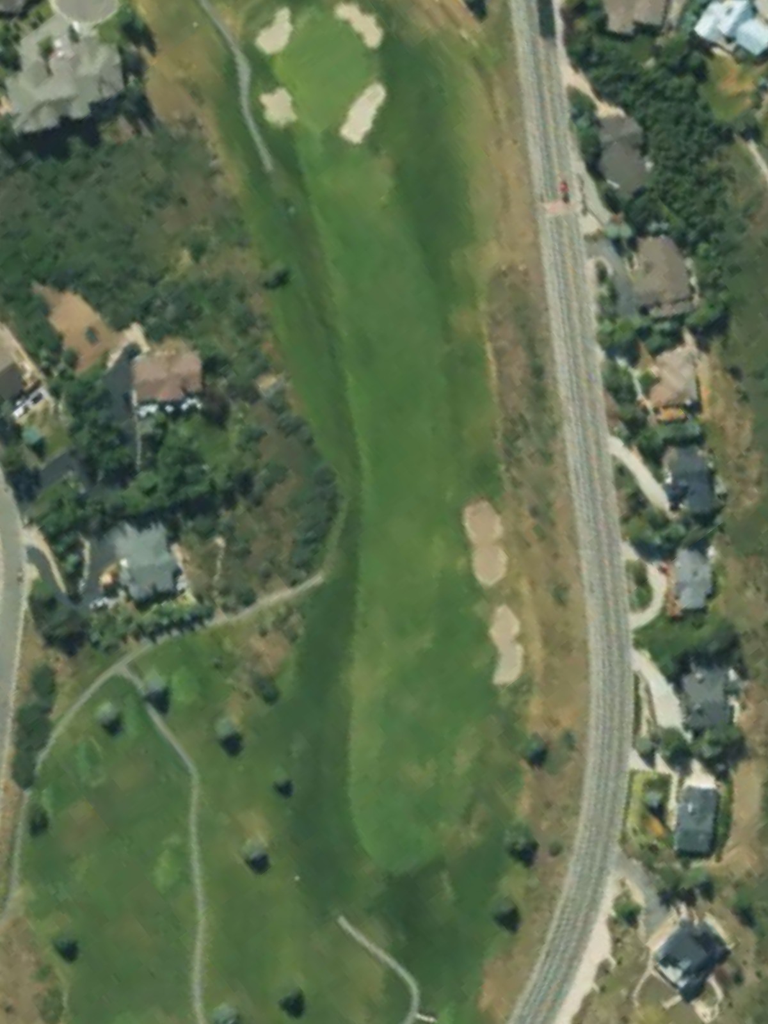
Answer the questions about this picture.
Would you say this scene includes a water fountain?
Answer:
No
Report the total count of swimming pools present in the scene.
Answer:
0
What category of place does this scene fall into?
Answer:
golf course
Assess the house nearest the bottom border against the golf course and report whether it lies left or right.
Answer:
to its right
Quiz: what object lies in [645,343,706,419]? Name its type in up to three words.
house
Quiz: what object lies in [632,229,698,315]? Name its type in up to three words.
house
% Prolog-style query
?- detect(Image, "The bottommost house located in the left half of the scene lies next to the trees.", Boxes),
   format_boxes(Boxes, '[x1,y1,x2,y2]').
[104,520,180,601]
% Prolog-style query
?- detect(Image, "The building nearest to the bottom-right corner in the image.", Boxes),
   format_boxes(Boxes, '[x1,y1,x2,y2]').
[656,914,738,1004]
